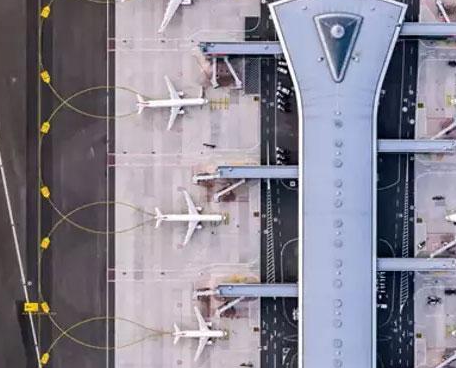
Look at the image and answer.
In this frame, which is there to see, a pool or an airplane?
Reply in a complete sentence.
The image shows an airplane.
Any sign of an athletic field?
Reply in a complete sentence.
No, the picture doesn't show any athletic field.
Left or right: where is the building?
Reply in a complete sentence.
It is on the right.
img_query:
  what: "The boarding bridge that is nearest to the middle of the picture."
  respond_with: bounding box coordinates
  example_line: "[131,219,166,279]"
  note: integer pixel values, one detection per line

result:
[191,166,299,202]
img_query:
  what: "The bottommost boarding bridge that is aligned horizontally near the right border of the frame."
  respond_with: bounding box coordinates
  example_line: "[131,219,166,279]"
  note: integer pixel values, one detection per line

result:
[377,236,456,271]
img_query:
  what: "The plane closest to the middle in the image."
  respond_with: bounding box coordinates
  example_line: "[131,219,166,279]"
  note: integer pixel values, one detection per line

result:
[155,189,226,246]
